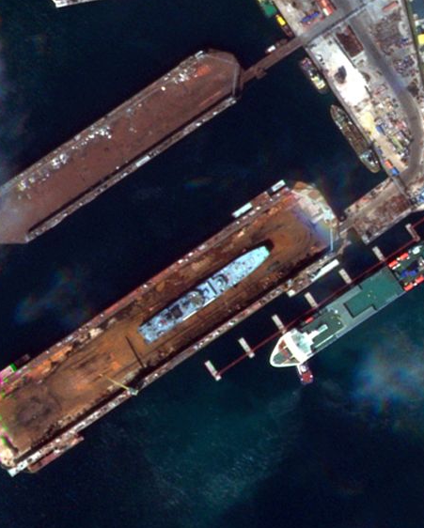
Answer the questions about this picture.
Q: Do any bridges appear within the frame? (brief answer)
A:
Yes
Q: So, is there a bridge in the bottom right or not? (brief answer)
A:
No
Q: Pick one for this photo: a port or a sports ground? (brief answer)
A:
port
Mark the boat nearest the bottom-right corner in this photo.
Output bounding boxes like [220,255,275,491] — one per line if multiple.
[300,362,314,385]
